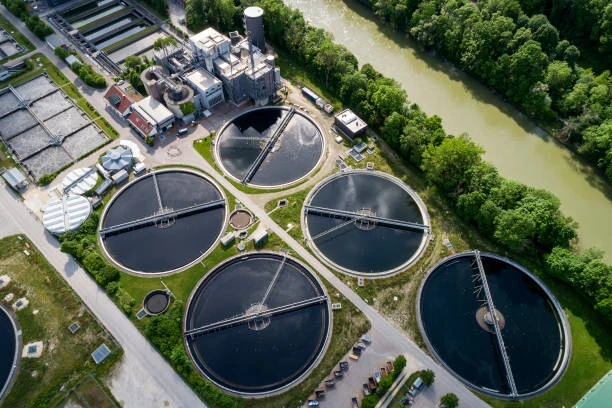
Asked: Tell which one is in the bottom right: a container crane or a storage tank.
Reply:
storage tank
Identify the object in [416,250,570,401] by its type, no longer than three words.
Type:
storage tank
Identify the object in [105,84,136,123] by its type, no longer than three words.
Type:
house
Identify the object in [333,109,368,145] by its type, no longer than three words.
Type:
building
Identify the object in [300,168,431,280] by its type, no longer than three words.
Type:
storage tank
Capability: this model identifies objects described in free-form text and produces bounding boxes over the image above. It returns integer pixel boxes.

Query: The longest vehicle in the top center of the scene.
[299,84,325,108]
